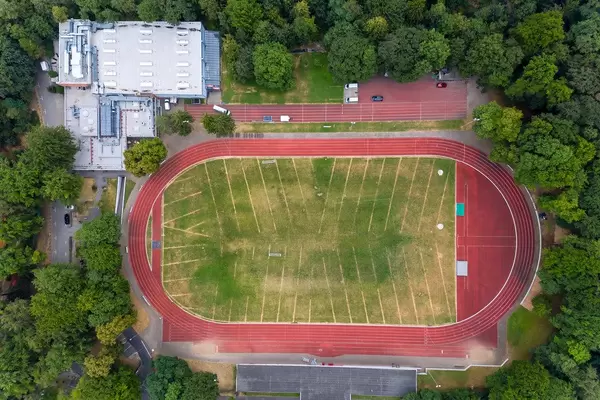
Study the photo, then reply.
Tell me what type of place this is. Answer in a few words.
sports ground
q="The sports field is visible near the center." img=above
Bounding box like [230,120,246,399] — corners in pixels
[161,156,455,325]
